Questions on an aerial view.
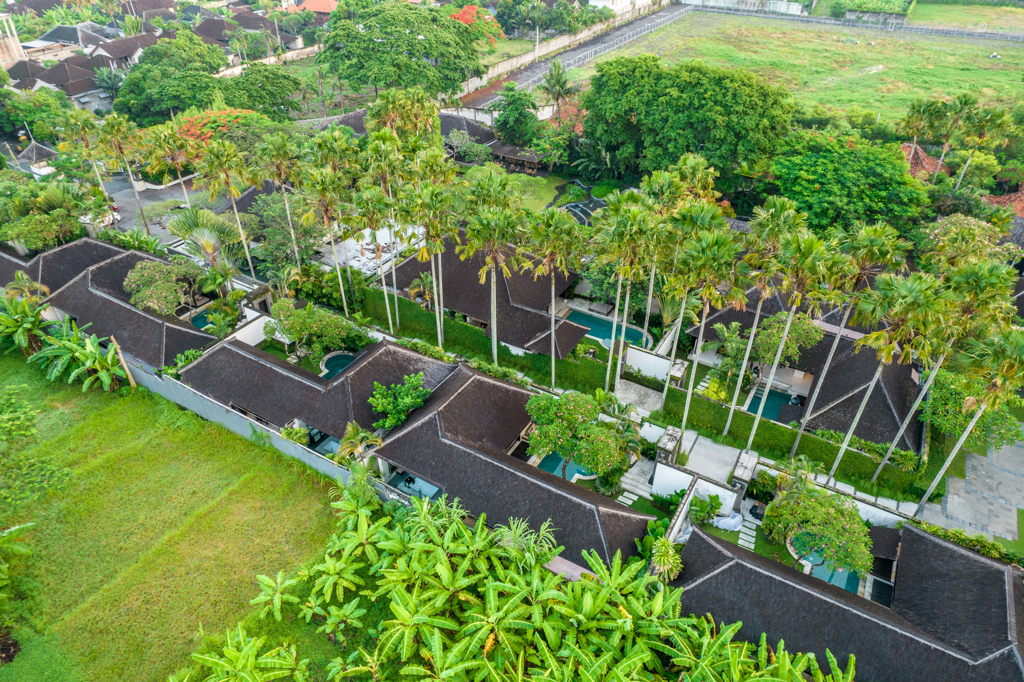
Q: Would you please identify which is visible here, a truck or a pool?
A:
pool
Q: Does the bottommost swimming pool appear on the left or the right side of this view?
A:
right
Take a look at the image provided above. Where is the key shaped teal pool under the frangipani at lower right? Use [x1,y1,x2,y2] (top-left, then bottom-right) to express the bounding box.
[783,547,873,598]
